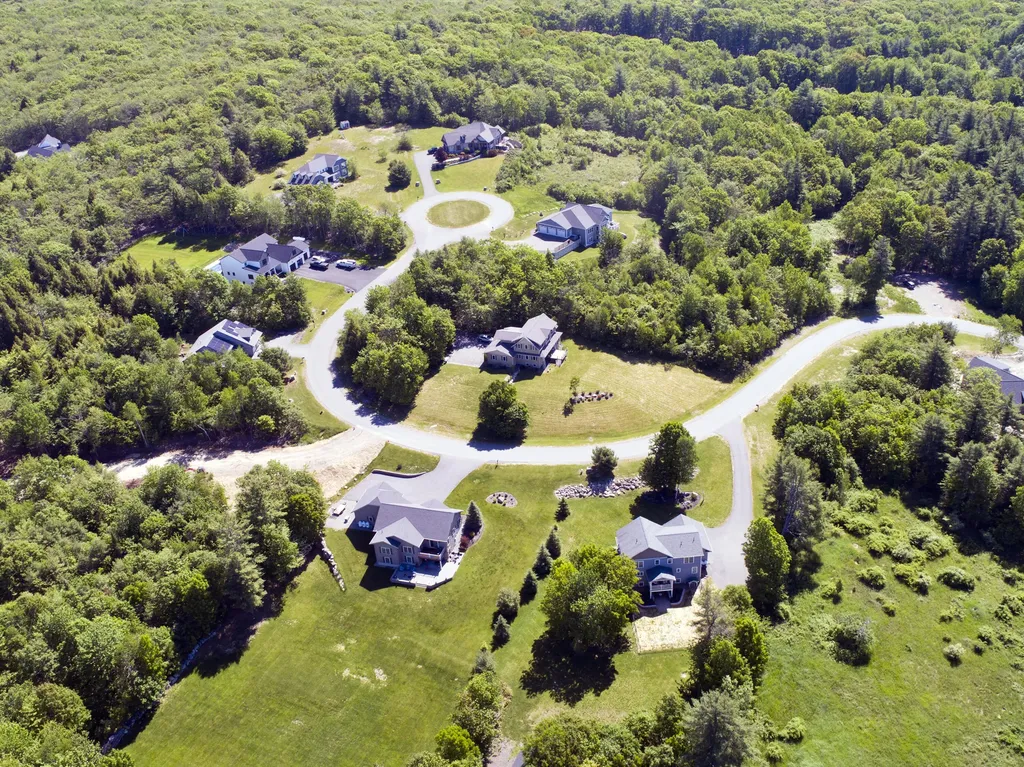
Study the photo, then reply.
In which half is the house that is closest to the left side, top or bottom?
top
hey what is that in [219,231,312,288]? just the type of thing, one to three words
house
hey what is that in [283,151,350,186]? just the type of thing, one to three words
house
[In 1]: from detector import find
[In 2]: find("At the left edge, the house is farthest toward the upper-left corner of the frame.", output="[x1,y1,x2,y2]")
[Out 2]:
[24,137,75,168]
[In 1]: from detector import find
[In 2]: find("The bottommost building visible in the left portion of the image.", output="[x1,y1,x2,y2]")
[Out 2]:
[354,480,460,569]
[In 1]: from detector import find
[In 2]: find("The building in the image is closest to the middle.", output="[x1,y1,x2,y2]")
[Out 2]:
[483,313,572,375]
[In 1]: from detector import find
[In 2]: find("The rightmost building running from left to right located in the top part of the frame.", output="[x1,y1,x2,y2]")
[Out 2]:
[536,202,625,244]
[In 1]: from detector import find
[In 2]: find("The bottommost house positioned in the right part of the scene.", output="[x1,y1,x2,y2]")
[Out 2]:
[612,512,712,605]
